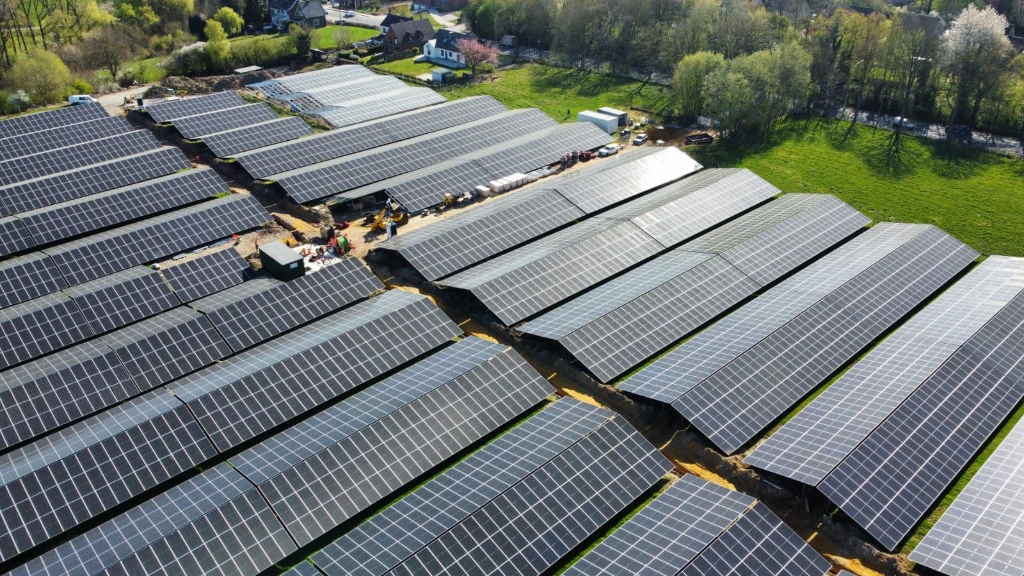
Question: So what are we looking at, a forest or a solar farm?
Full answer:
The picture captures a solar farm.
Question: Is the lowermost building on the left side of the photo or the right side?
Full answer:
It is on the left.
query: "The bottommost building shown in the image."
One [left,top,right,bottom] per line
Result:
[256,239,306,280]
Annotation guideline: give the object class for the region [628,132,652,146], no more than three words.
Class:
car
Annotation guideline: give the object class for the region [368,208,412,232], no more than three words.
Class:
work vehicle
